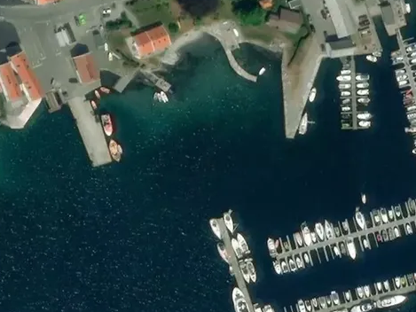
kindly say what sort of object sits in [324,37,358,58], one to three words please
building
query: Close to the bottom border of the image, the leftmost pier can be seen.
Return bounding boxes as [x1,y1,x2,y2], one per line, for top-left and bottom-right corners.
[214,217,254,312]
